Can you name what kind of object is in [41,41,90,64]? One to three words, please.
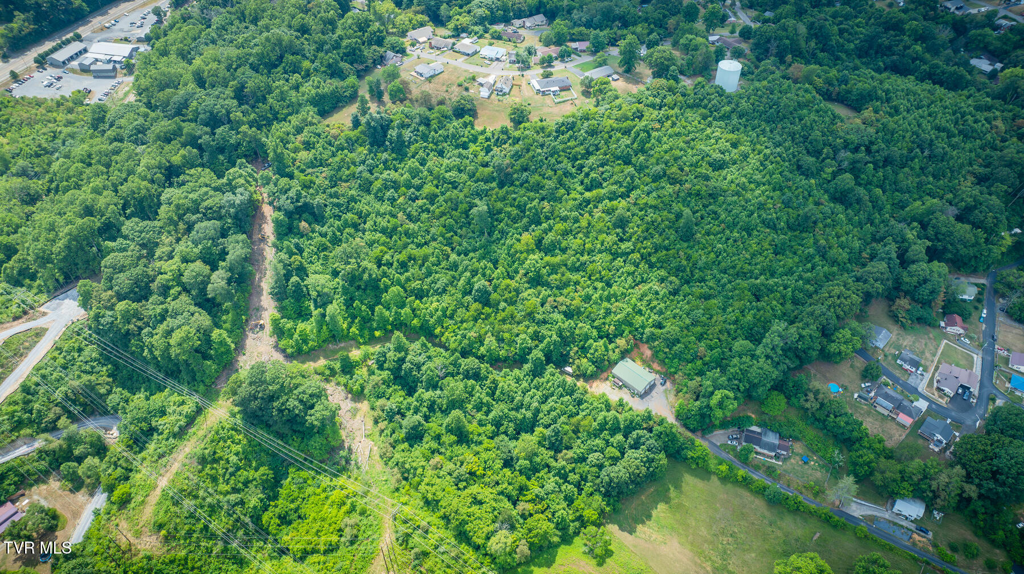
building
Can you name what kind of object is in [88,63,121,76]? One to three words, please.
shed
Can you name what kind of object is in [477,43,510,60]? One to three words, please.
house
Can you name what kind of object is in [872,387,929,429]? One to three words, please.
house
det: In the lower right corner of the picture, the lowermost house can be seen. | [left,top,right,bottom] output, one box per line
[893,489,925,523]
